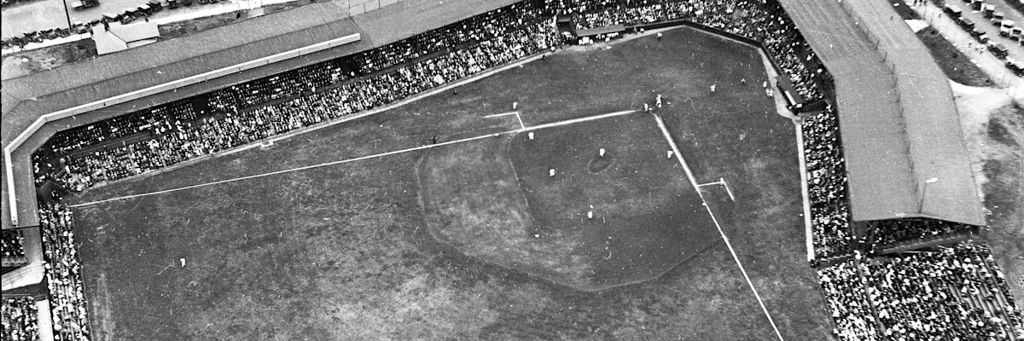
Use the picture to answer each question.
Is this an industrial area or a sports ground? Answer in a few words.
sports ground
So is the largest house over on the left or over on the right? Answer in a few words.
left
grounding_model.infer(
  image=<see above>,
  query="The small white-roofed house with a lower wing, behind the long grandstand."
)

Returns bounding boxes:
[90,8,166,56]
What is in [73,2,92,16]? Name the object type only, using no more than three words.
car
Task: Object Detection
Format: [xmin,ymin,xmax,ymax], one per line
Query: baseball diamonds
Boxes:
[69,27,835,341]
